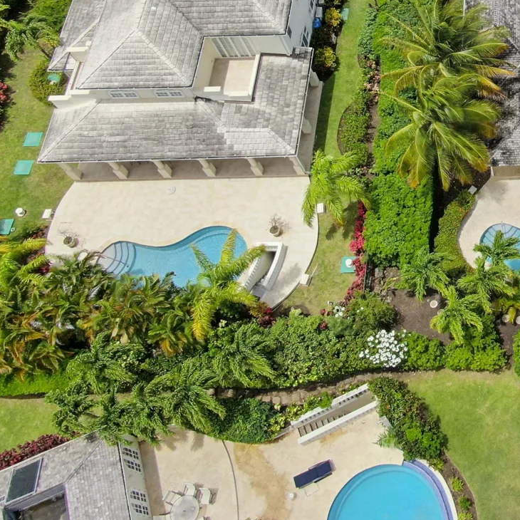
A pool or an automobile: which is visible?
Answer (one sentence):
It is a pool that can be seen here.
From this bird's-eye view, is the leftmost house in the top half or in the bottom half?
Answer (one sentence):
The bottom half of the photo is where the leftmost house is.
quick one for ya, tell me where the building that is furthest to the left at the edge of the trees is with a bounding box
[0,435,145,520]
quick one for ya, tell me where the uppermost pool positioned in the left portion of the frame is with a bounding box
[91,220,252,292]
